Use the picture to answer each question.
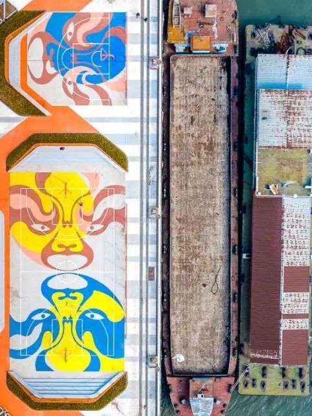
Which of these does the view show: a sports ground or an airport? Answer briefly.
sports ground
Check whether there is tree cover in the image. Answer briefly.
No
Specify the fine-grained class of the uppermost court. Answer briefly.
basketball court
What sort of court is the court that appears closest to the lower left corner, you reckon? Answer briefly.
basketball court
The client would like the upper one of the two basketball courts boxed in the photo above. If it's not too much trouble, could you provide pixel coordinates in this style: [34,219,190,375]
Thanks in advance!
[28,11,126,106]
